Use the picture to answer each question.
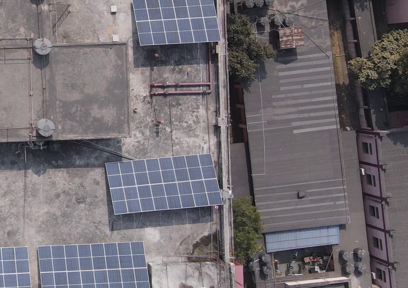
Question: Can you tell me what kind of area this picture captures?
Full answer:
It's an industrial area.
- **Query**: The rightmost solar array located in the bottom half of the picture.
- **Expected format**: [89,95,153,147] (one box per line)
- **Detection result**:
[105,154,222,215]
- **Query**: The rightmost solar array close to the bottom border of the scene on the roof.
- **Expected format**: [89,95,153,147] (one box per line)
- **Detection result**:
[37,242,150,288]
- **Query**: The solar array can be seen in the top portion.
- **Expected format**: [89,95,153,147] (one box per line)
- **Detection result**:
[132,0,220,45]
